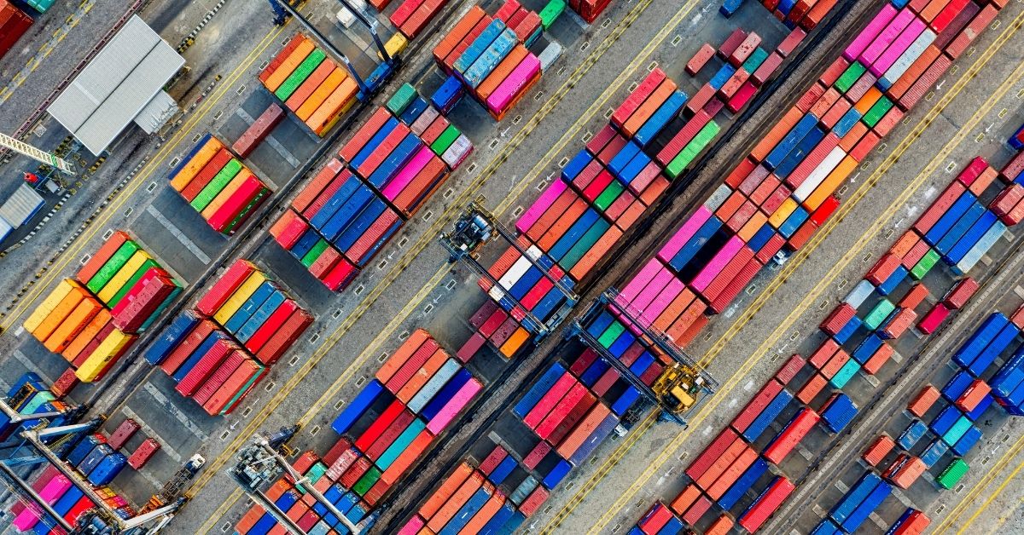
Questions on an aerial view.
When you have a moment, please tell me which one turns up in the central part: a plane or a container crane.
container crane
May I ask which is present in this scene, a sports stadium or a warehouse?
warehouse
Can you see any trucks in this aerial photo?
Yes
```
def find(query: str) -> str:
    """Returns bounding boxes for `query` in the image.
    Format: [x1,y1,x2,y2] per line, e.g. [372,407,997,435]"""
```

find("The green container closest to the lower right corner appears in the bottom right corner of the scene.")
[934,458,969,490]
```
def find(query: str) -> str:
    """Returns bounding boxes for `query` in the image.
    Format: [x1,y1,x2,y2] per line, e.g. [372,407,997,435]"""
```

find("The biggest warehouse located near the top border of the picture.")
[49,15,195,159]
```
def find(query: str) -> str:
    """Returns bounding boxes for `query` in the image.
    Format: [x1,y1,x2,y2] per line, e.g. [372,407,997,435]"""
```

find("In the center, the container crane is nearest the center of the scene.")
[436,195,583,343]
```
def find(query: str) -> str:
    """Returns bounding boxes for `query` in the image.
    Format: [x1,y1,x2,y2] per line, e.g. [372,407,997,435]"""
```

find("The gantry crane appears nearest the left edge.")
[0,396,88,454]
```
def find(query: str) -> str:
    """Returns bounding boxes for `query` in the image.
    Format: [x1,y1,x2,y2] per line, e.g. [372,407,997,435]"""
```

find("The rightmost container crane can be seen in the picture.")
[564,284,721,429]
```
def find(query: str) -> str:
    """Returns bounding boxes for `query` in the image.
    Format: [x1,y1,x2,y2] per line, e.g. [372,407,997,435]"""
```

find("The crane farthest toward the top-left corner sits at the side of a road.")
[269,0,405,104]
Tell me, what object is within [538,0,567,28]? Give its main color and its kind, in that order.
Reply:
green shipping container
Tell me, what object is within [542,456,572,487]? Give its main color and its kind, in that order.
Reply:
blue shipping container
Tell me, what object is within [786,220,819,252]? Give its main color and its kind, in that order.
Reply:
red shipping container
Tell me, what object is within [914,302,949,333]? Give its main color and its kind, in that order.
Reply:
red shipping container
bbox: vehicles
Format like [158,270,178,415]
[127,452,208,535]
[612,396,654,441]
[774,243,795,264]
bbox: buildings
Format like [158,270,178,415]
[49,15,195,159]
[0,182,47,231]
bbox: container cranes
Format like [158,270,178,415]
[269,0,405,104]
[0,419,186,535]
[219,420,390,535]
[0,396,88,454]
[436,195,583,343]
[564,284,721,429]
